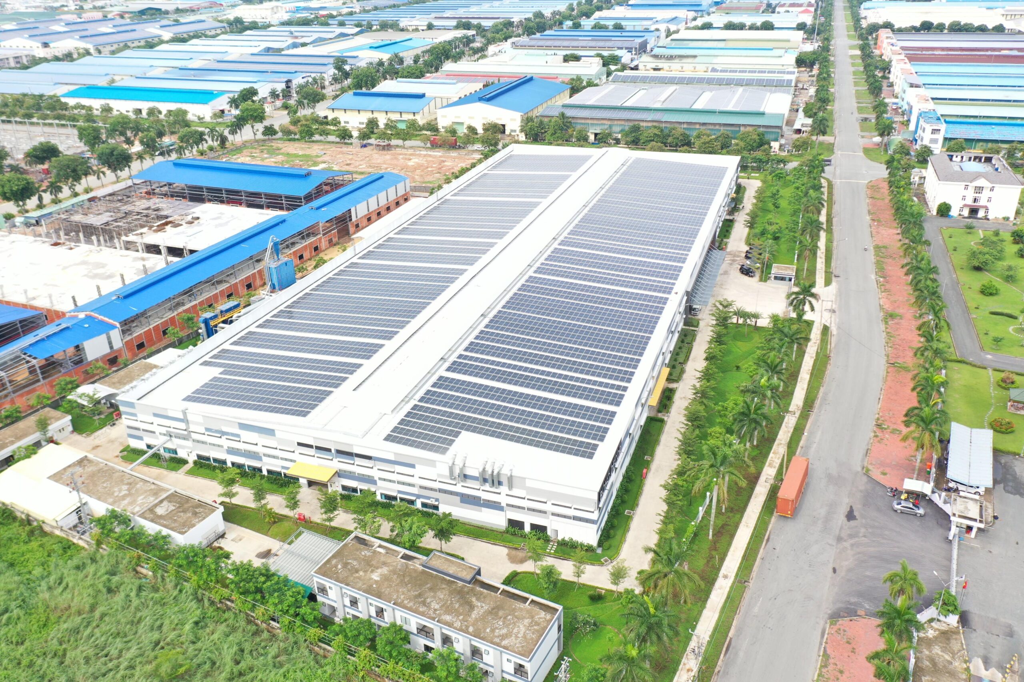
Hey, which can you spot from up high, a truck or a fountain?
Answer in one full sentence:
I can see a truck in this picture.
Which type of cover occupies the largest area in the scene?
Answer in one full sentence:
The largest share of the image is taken up by buildings.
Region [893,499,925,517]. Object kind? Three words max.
car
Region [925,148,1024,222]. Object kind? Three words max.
building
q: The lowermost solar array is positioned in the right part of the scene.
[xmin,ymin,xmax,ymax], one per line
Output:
[523,157,727,306]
